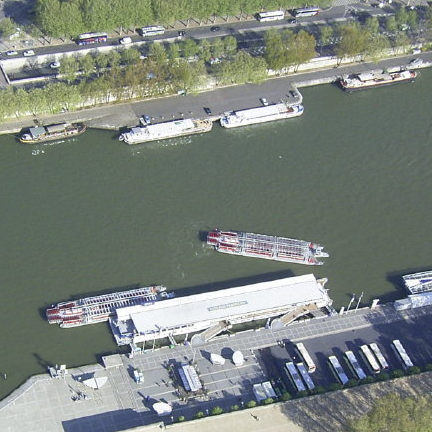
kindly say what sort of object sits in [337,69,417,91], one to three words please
vessel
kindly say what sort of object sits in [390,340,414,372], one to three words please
bus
